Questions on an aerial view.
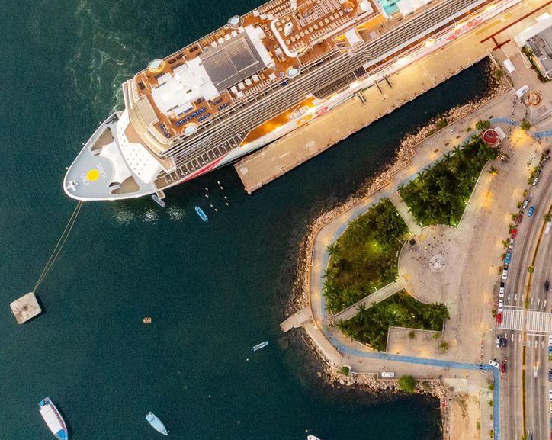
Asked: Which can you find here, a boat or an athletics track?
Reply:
boat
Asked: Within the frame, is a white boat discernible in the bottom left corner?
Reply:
Yes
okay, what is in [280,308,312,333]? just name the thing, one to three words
pier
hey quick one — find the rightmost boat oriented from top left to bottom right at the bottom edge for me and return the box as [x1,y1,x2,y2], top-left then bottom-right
[145,411,167,435]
